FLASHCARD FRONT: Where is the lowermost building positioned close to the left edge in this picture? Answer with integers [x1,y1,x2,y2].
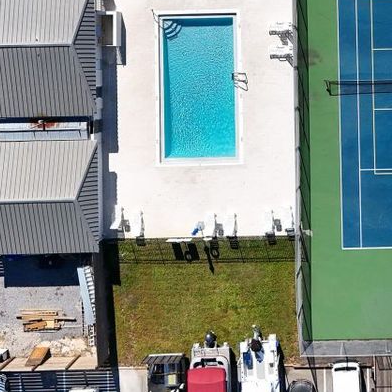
[0,137,110,255]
